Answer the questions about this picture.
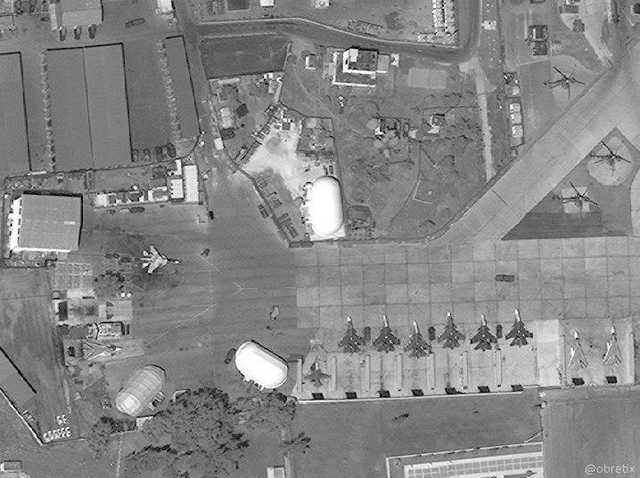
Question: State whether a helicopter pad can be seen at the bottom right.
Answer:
No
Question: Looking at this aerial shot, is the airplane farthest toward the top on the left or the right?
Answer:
left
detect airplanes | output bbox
[141,247,181,274]
[404,321,431,357]
[506,310,532,346]
[303,361,332,387]
[374,316,399,352]
[471,314,497,350]
[605,326,622,364]
[438,312,464,348]
[338,317,364,352]
[84,342,122,360]
[569,331,587,368]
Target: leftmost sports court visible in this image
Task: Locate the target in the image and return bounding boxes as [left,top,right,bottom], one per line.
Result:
[408,67,446,89]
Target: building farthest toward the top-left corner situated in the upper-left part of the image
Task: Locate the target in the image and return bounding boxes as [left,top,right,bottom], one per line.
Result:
[51,0,102,29]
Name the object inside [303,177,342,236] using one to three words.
hangar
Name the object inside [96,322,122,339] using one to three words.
house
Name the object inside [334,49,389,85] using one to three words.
building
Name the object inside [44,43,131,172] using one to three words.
building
